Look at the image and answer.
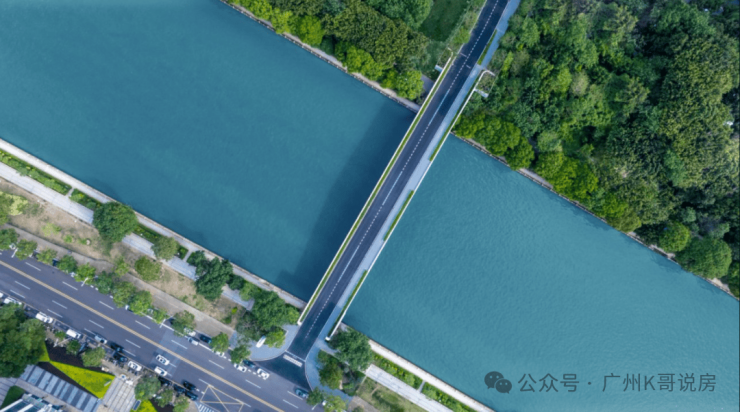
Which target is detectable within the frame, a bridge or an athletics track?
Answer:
bridge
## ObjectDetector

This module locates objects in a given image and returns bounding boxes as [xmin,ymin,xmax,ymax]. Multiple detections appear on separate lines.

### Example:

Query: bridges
[299,60,481,339]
